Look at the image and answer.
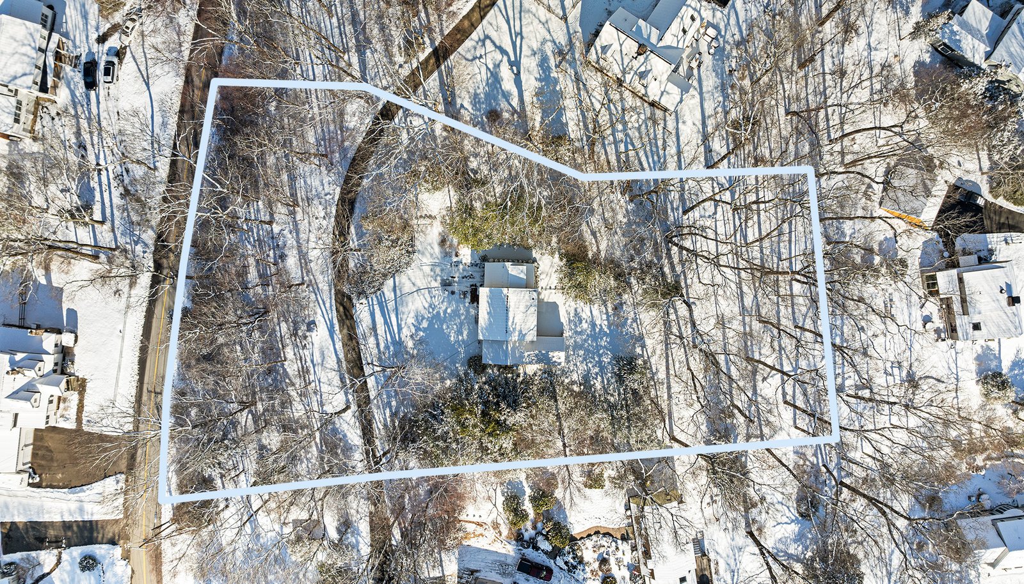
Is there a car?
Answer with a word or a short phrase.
Yes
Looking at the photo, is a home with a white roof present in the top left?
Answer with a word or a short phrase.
Yes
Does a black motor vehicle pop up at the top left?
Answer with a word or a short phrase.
Yes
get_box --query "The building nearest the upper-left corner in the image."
[0,0,83,141]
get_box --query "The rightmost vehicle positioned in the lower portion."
[516,555,555,582]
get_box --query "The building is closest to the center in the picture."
[477,262,565,365]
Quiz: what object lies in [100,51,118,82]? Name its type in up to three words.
car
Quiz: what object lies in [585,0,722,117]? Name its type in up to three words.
house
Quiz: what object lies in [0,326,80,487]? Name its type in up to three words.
house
